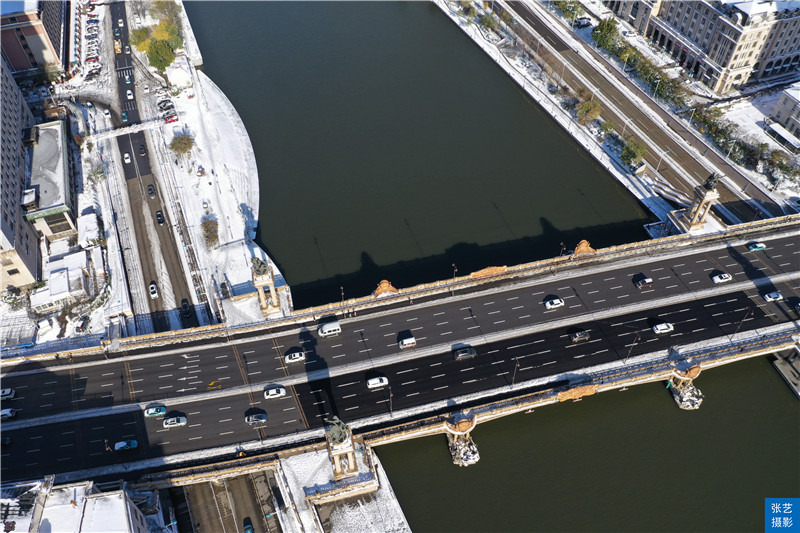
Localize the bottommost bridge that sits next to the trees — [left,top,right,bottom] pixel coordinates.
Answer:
[0,202,800,533]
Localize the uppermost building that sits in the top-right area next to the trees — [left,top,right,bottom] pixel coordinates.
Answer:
[604,0,800,92]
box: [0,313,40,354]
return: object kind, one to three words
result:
building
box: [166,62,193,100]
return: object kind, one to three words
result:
building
